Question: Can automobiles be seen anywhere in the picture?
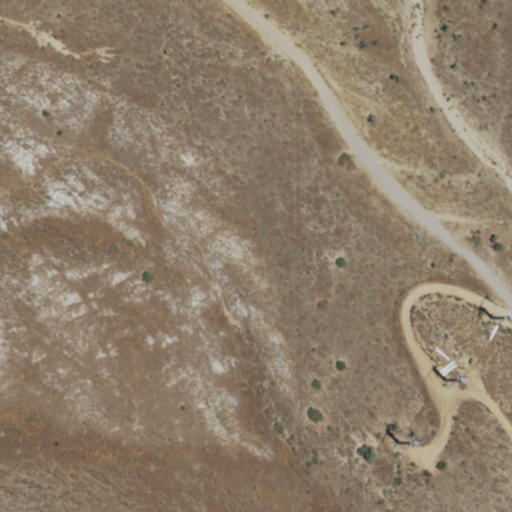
No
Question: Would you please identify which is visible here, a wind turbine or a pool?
wind turbine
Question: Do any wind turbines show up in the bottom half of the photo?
Yes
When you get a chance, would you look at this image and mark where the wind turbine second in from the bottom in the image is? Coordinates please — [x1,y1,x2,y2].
[443,363,470,392]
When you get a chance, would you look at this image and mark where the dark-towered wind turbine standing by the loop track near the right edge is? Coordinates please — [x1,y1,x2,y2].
[490,307,512,336]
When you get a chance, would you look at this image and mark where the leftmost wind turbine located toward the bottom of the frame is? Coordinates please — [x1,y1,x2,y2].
[396,425,422,460]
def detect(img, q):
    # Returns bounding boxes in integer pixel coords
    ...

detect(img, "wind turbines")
[490,307,512,336]
[396,425,422,460]
[443,363,470,392]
